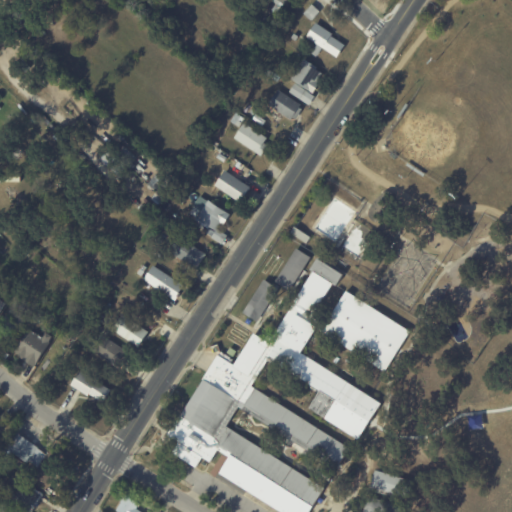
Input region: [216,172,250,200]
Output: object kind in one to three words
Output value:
house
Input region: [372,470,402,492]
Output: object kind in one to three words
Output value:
house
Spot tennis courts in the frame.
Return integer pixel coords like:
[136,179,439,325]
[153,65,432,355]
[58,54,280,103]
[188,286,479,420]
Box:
[380,241,436,308]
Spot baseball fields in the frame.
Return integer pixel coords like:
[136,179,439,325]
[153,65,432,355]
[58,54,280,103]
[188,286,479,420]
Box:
[390,94,463,173]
